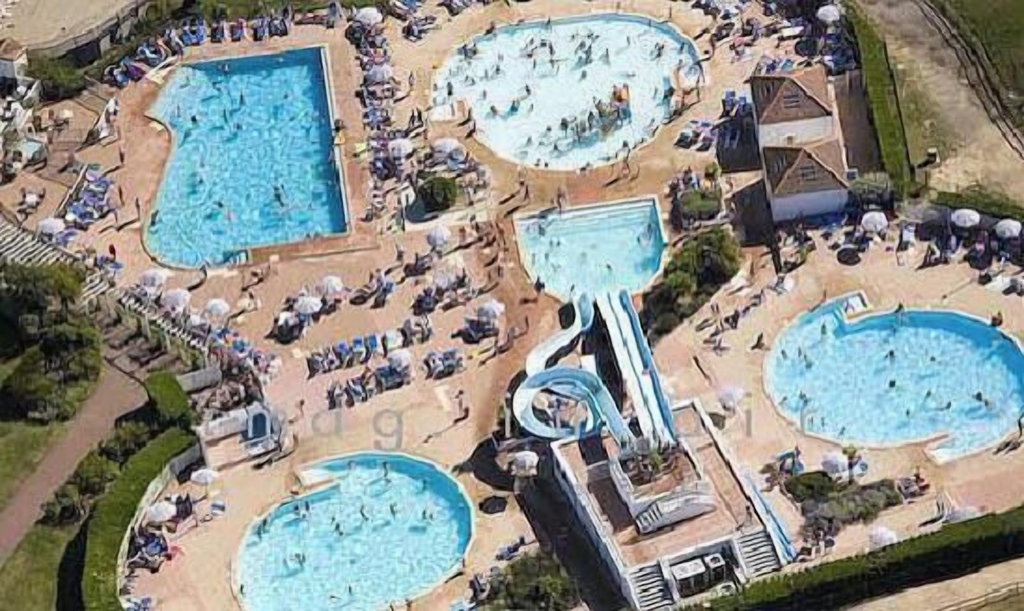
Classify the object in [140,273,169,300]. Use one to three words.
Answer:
umbrella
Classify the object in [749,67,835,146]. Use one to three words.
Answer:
house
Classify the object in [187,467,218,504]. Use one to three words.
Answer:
umbrella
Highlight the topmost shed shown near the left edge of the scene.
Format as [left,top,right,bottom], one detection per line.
[0,37,31,92]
